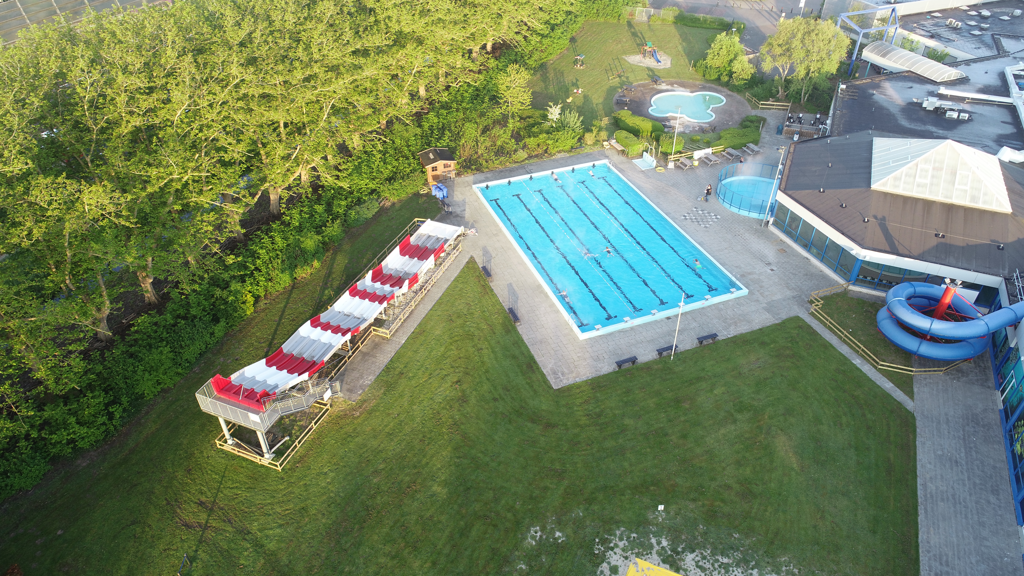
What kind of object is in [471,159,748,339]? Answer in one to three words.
swimming pool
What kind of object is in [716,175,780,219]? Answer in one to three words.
swimming pool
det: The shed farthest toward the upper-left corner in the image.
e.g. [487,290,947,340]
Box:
[417,146,459,182]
